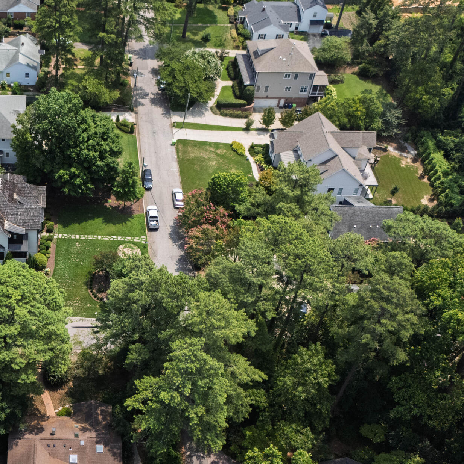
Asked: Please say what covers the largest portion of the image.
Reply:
trees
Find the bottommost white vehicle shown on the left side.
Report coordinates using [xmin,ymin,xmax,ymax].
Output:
[147,207,161,231]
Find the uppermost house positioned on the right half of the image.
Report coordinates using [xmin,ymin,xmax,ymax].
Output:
[233,0,326,39]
